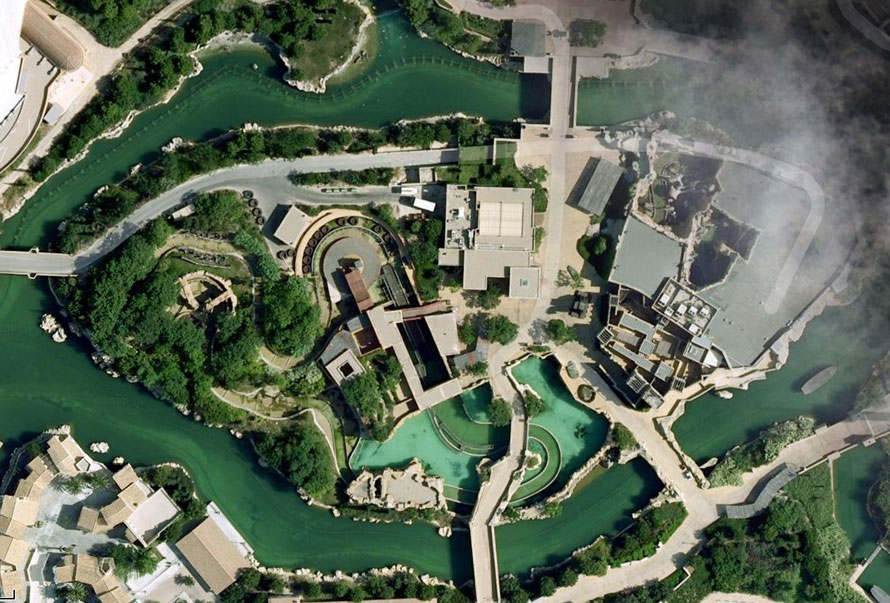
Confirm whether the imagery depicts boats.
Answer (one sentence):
Yes, the frame does contain a boat.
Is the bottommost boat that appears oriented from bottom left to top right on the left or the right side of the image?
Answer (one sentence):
The bottommost boat that appears oriented from bottom left to top right sits on the right side.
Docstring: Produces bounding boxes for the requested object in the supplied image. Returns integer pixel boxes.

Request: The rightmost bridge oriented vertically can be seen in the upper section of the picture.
[551,56,578,128]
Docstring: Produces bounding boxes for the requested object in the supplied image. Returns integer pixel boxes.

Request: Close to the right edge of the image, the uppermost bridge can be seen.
[807,395,890,466]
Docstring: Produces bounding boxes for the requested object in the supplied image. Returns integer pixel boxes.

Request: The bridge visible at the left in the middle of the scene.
[0,247,75,280]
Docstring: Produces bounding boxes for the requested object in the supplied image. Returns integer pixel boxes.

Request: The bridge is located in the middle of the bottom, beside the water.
[468,415,529,603]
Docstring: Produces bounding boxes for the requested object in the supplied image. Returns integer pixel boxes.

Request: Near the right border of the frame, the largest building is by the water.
[699,148,860,369]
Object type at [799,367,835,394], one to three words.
boat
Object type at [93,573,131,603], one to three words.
house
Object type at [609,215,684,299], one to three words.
building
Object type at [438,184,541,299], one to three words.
building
